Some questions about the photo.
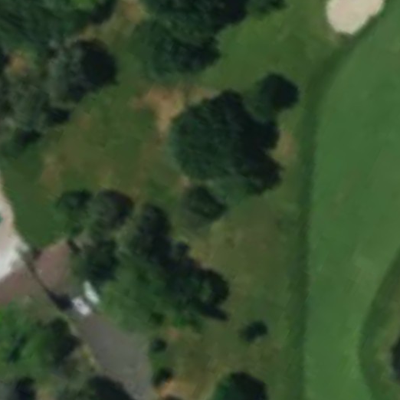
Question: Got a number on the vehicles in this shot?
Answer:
2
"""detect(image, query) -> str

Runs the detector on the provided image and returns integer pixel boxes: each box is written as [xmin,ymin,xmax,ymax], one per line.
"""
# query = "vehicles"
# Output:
[69,296,93,317]
[81,281,102,308]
